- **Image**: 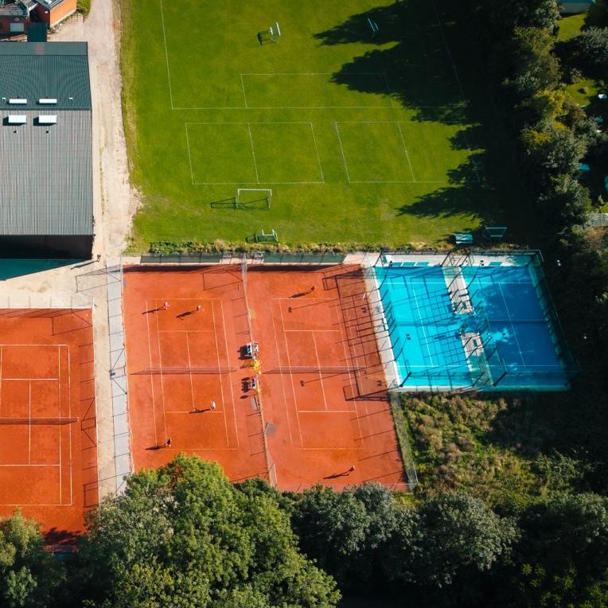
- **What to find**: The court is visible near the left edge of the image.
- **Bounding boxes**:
[0,309,98,556]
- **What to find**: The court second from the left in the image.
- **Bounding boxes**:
[124,265,271,486]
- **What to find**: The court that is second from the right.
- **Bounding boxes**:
[374,251,486,387]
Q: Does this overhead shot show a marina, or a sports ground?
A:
sports ground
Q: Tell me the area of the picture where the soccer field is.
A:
top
